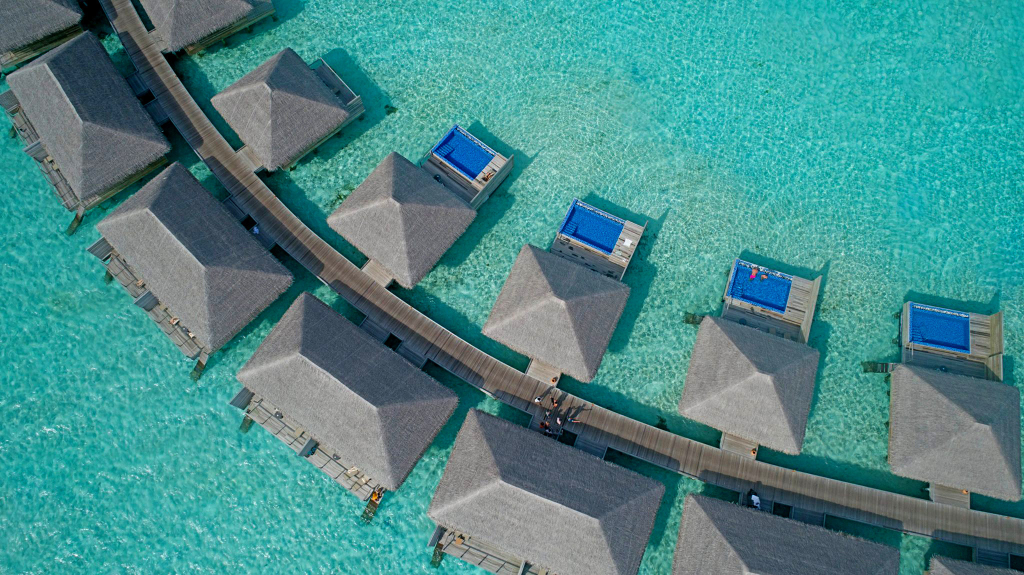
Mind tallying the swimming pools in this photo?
4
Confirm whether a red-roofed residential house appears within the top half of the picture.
No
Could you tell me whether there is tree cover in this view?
No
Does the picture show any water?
Yes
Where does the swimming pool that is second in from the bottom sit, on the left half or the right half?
right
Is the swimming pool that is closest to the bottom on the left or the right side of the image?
right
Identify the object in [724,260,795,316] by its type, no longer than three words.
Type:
swimming pool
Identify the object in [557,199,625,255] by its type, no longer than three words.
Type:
swimming pool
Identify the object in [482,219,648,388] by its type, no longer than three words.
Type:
house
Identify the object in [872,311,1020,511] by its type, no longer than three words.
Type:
house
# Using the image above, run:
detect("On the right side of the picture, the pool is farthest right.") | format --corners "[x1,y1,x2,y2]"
[902,300,971,354]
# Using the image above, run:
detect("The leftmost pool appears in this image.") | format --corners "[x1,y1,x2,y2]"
[432,125,500,183]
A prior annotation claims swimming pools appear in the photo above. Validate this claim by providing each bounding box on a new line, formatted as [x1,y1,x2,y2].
[557,199,625,255]
[902,300,971,354]
[432,125,500,183]
[724,260,795,316]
